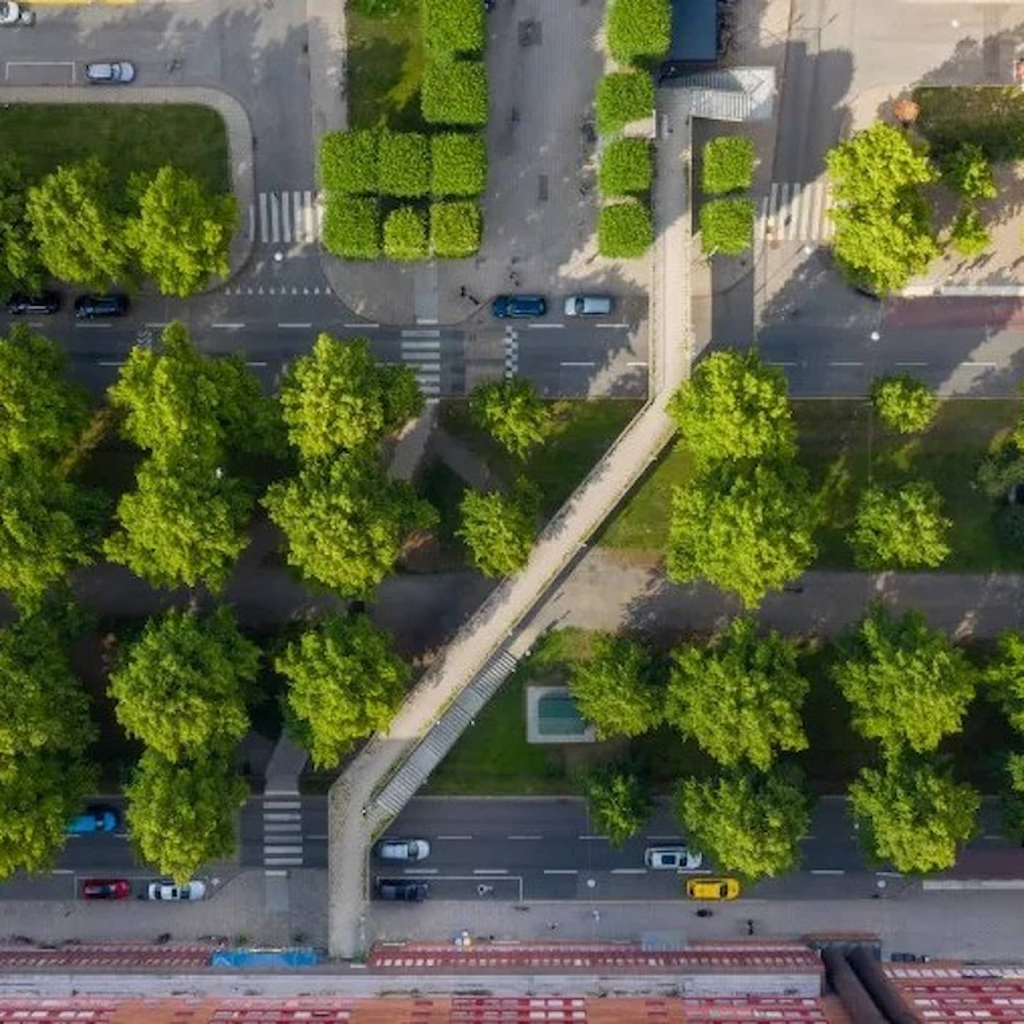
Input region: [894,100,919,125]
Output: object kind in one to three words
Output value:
umbrella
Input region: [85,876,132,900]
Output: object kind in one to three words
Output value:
car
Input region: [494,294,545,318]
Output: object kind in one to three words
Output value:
car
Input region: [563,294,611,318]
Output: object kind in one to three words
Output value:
vehicle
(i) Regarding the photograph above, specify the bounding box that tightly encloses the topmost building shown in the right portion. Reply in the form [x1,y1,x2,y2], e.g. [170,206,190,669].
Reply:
[670,0,716,72]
